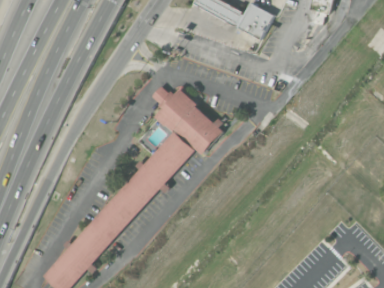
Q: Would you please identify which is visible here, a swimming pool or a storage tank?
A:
swimming pool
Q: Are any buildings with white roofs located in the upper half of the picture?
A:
Yes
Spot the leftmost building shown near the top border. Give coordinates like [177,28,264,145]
[194,0,246,26]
